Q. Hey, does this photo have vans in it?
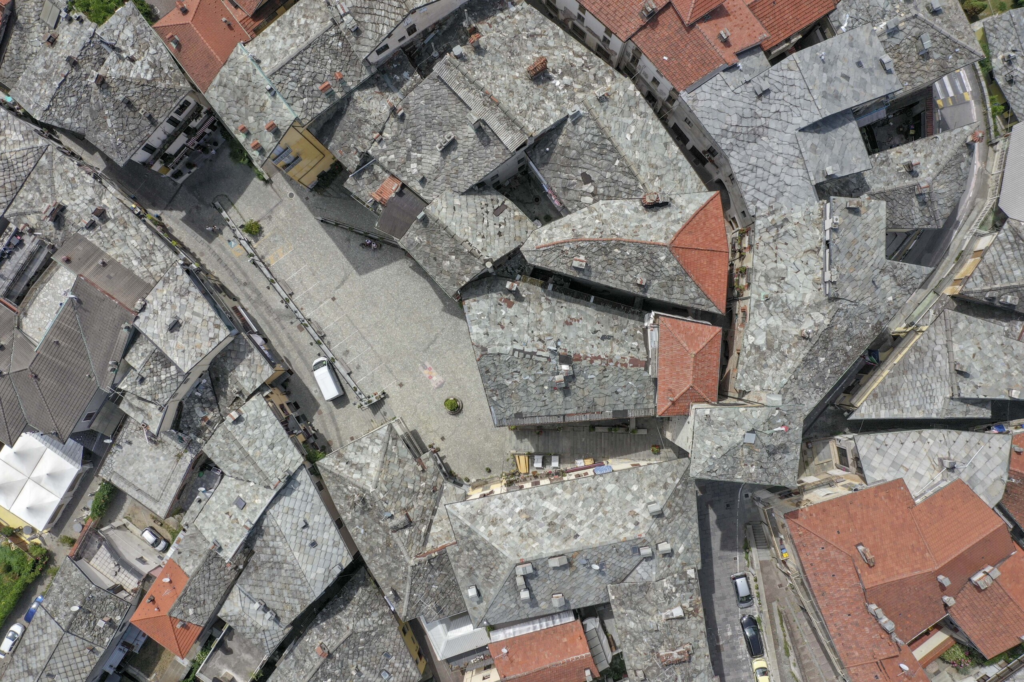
Yes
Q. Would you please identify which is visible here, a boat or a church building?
church building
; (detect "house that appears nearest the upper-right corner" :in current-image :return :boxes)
[974,6,1024,130]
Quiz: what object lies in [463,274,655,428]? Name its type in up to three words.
church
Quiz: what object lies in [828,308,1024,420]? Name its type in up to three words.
house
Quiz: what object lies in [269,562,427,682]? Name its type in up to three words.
house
